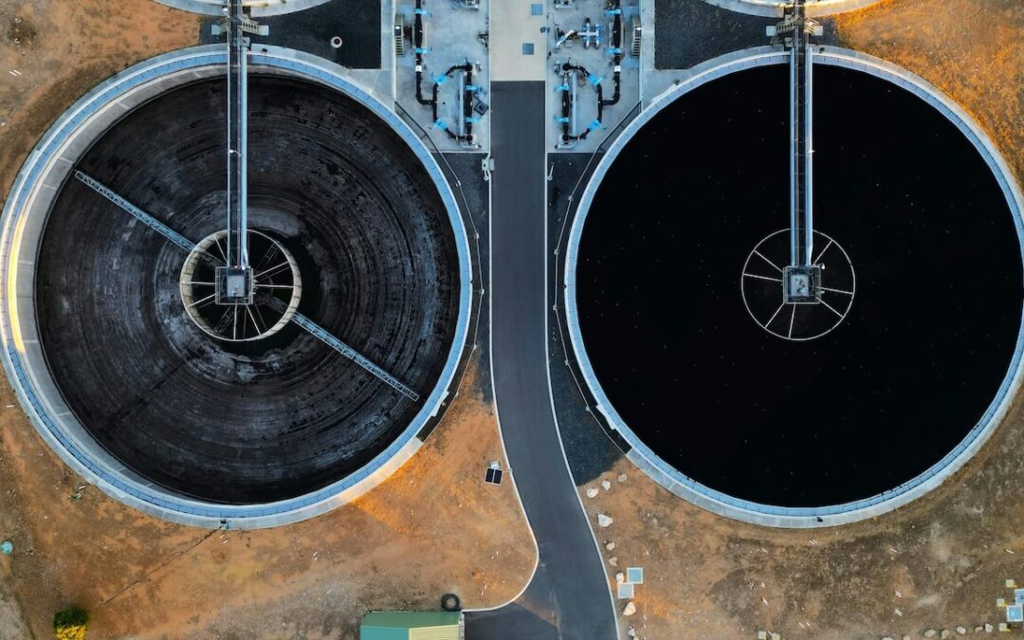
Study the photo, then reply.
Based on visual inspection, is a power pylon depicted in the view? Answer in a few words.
No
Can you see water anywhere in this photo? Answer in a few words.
Yes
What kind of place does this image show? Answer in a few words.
industrial area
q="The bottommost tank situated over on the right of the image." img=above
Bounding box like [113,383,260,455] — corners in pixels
[562,49,1024,522]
